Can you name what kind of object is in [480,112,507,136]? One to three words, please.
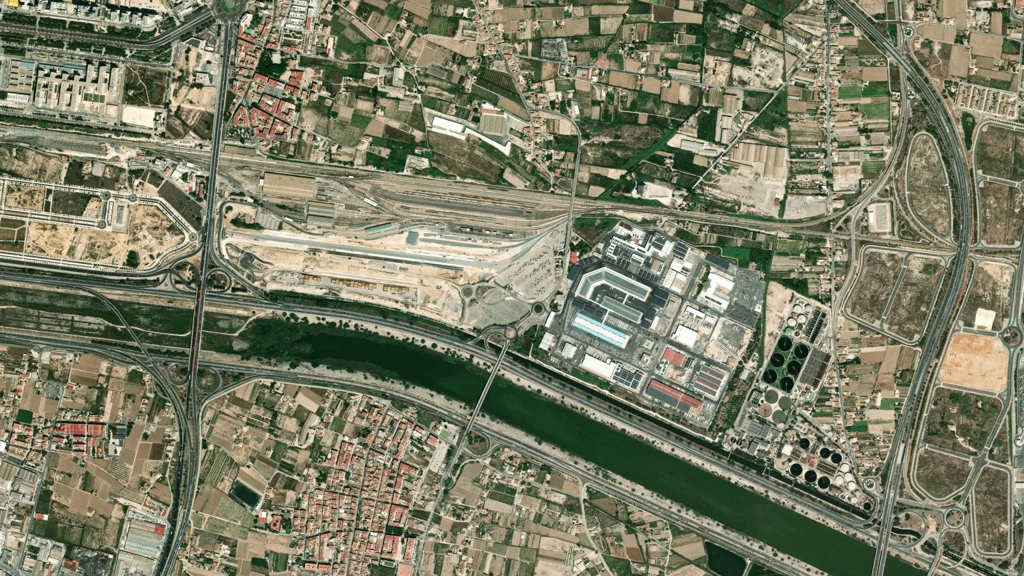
shed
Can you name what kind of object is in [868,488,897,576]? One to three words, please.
bridge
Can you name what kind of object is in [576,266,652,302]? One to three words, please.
building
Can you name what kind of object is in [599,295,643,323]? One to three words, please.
building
